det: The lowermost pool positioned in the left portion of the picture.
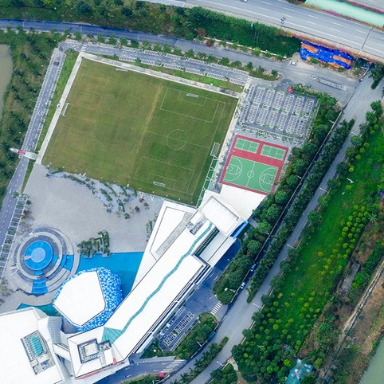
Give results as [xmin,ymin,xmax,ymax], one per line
[17,303,65,317]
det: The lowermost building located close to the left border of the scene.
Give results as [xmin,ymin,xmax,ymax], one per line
[0,307,136,384]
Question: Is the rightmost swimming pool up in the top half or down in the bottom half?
bottom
